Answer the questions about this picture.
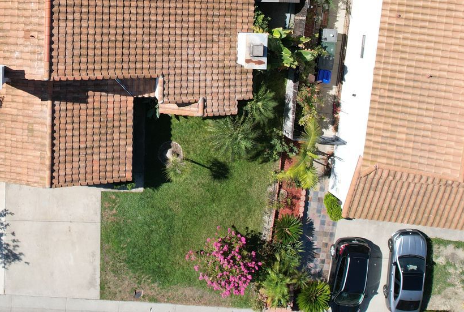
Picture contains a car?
Yes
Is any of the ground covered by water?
No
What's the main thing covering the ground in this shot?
buildings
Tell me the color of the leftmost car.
black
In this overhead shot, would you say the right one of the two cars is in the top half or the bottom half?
bottom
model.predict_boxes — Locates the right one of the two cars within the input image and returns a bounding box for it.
[389,233,437,312]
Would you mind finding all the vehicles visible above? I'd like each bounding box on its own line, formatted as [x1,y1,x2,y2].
[327,242,375,312]
[389,233,437,312]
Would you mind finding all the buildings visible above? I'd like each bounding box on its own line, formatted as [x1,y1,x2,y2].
[0,0,269,190]
[328,0,464,233]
